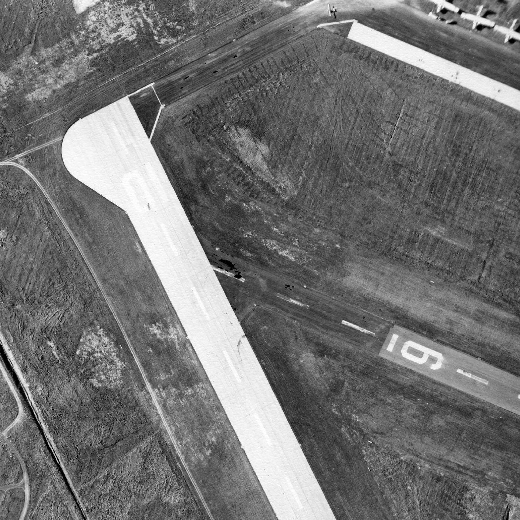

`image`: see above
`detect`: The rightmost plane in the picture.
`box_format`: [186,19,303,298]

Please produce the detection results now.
[496,17,520,41]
